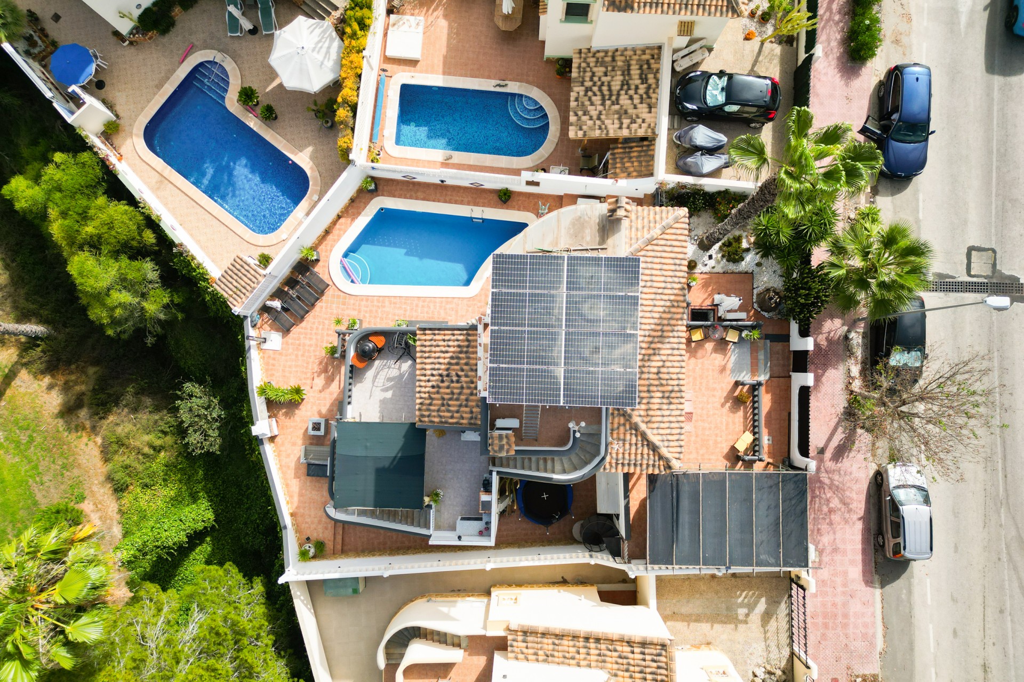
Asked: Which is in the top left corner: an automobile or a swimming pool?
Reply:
swimming pool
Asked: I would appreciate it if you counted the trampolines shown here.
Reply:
1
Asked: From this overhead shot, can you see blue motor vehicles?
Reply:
Yes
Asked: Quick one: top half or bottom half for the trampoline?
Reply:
bottom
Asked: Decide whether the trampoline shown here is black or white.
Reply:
black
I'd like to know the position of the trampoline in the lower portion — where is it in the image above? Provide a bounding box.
[517,482,574,537]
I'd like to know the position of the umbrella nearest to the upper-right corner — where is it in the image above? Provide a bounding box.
[714,295,744,317]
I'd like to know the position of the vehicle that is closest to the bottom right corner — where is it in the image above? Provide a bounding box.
[875,460,939,565]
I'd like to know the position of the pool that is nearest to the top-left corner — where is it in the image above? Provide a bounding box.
[130,47,319,244]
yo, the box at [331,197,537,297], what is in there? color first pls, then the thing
blue swimming pool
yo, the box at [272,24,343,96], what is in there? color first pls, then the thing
white umbrella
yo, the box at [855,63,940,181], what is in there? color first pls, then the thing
blue car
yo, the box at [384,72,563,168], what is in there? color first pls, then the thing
blue swimming pool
